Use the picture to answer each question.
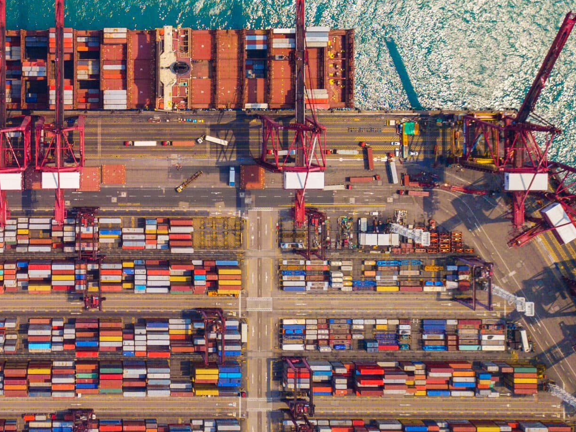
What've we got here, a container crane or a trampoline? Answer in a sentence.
Of the two, only a container crane appears.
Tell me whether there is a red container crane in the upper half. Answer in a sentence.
Yes, a red container crane is visible in the upper half.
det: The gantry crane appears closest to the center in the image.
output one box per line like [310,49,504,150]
[292,207,325,265]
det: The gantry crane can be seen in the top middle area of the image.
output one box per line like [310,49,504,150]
[255,0,327,233]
